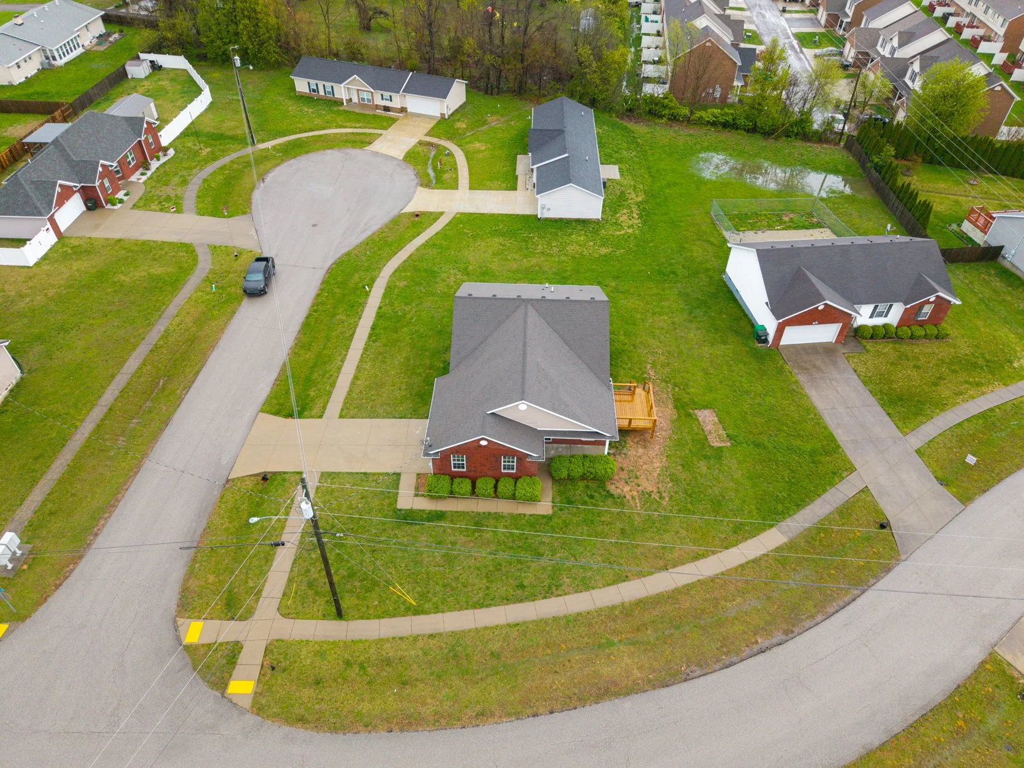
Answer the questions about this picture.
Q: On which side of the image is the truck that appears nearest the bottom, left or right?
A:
left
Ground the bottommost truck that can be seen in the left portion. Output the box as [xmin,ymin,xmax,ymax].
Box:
[242,255,278,294]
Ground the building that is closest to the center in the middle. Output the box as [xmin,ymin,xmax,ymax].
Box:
[421,282,619,481]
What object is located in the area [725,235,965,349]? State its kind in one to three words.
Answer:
house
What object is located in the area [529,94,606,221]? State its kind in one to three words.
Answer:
house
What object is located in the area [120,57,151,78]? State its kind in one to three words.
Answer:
shed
